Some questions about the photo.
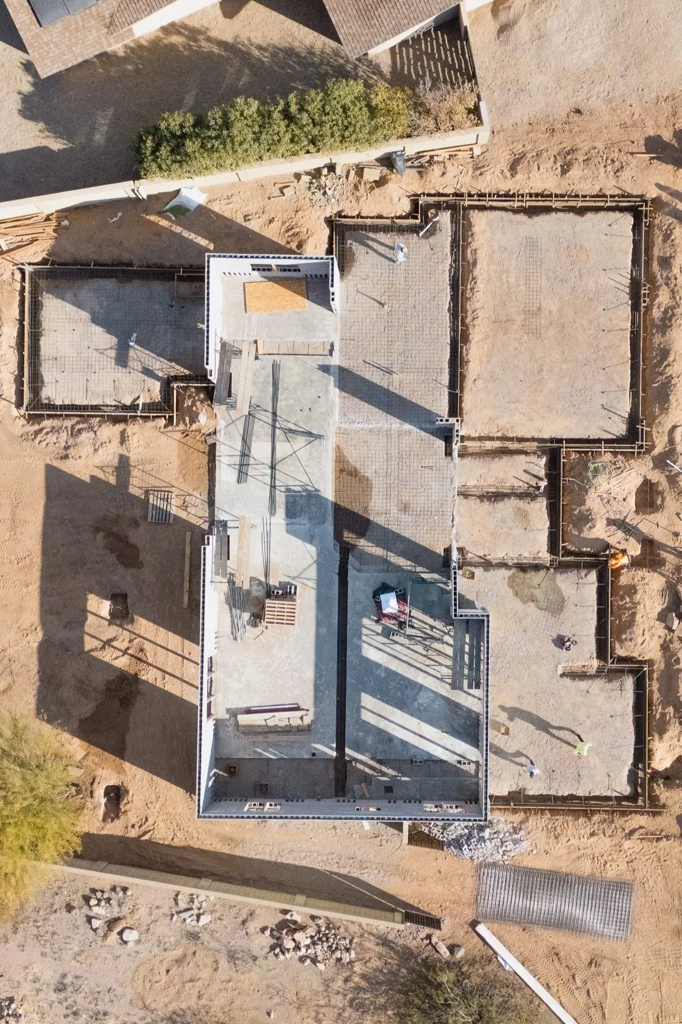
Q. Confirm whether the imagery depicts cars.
No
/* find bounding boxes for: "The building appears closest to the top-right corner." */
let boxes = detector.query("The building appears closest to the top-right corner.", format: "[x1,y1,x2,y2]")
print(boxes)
[324,0,470,72]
